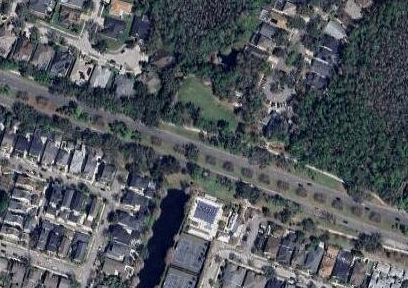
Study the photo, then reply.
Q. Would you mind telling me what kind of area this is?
residential area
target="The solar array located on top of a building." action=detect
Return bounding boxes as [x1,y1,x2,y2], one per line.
[193,199,220,223]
